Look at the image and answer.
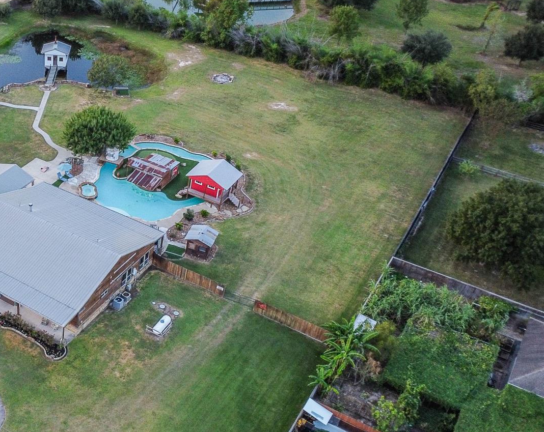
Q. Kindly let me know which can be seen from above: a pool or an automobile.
pool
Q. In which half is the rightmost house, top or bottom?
bottom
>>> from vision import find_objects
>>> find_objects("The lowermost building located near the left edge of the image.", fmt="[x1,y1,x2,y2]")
[0,179,164,343]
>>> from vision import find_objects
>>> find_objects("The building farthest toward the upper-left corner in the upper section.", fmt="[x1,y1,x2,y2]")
[42,41,70,83]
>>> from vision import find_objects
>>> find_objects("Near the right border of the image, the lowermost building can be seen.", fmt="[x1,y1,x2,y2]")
[507,324,544,403]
